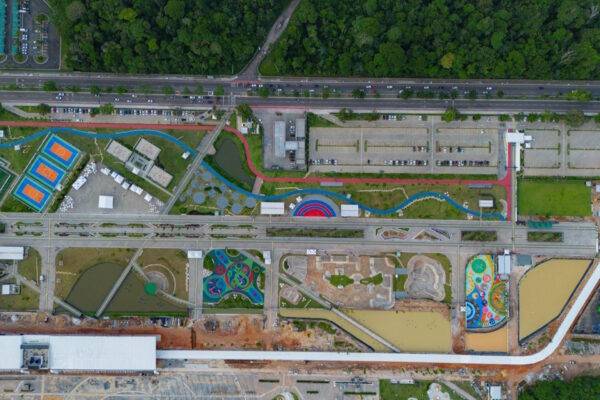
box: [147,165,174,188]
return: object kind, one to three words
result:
building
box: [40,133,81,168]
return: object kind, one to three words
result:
sports court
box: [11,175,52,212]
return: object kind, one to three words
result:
sports court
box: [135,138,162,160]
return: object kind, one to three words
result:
building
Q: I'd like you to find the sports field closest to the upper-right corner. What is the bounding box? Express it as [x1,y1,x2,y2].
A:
[517,180,593,217]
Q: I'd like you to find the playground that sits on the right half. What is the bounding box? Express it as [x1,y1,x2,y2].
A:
[466,254,508,329]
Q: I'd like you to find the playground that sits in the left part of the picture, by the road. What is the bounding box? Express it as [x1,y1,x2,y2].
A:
[203,249,266,314]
